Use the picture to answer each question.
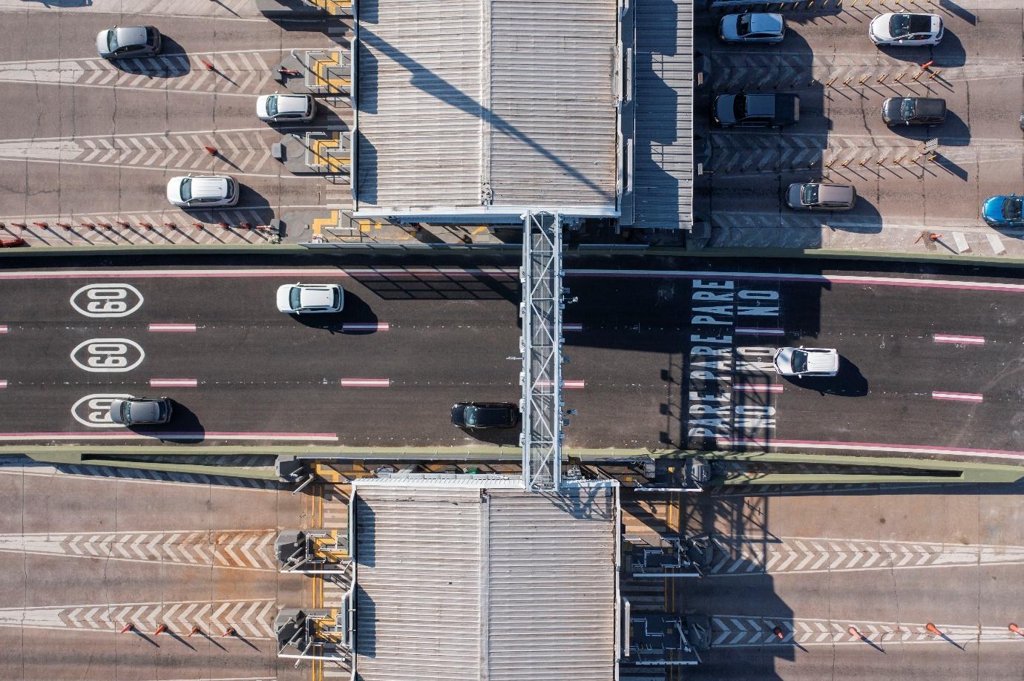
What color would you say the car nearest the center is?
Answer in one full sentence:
The color of the car nearest the center is black.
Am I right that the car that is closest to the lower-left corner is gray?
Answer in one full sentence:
Yes, the car that is closest to the lower-left corner appears gray.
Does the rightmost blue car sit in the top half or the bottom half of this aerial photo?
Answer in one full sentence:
It is in the top half that the rightmost blue car appears.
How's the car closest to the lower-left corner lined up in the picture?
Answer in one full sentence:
I'd say the car closest to the lower-left corner is aligned horizontally in the picture.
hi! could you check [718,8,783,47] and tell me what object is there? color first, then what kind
blue car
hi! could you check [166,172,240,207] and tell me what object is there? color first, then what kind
white car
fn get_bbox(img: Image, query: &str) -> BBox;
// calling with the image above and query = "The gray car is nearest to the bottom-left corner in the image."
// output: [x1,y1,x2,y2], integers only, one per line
[110,395,174,428]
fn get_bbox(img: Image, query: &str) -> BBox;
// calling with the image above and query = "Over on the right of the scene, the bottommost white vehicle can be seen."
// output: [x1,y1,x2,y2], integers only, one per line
[773,344,838,379]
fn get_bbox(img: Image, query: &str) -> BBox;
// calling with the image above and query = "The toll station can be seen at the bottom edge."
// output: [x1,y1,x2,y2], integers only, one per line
[350,462,632,681]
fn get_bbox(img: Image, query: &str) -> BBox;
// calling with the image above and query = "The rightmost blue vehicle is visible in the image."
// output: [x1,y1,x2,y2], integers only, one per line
[980,192,1024,227]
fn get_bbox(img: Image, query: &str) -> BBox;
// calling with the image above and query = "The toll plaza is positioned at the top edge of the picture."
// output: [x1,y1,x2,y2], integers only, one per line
[350,0,695,235]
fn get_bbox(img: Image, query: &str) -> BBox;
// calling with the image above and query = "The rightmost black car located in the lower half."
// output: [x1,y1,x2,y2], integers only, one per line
[451,399,518,433]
